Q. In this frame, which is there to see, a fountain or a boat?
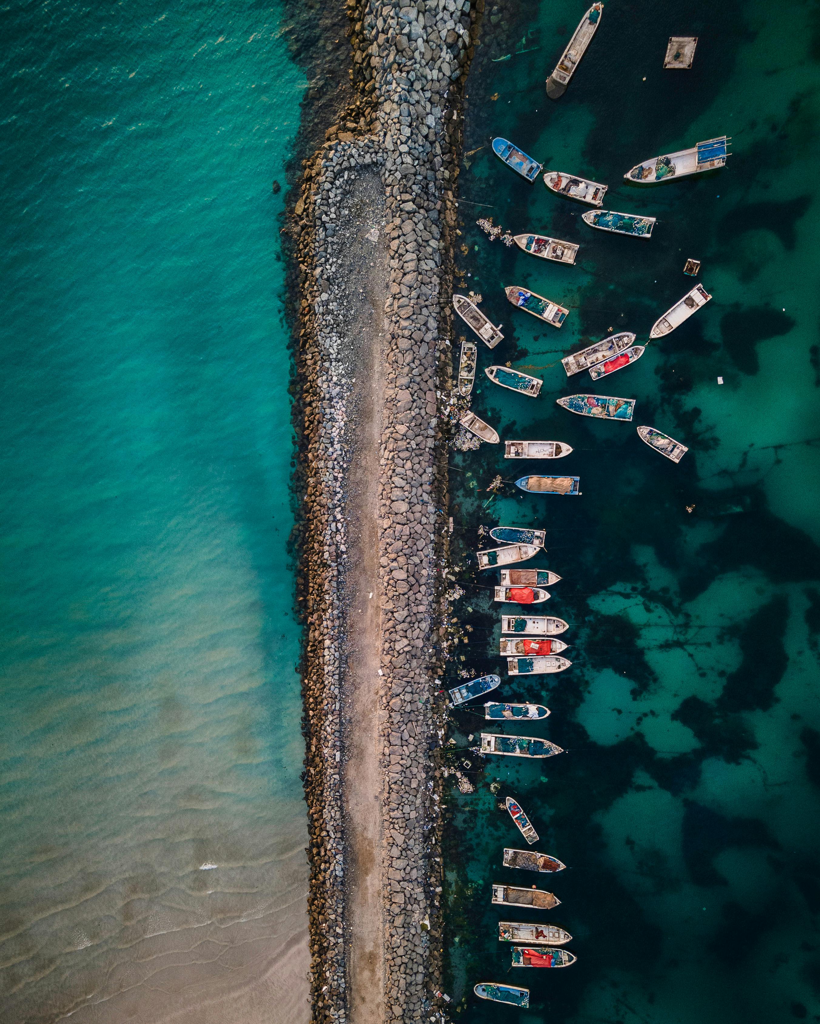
boat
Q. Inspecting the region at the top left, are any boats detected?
No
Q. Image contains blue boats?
Yes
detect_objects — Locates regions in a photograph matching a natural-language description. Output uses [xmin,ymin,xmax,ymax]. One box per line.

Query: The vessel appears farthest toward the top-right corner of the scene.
[663,35,699,70]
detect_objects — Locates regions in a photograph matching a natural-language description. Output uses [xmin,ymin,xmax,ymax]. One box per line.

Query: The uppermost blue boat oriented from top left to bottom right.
[491,137,544,182]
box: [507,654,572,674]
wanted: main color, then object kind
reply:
white boat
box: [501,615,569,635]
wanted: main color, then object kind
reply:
white boat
